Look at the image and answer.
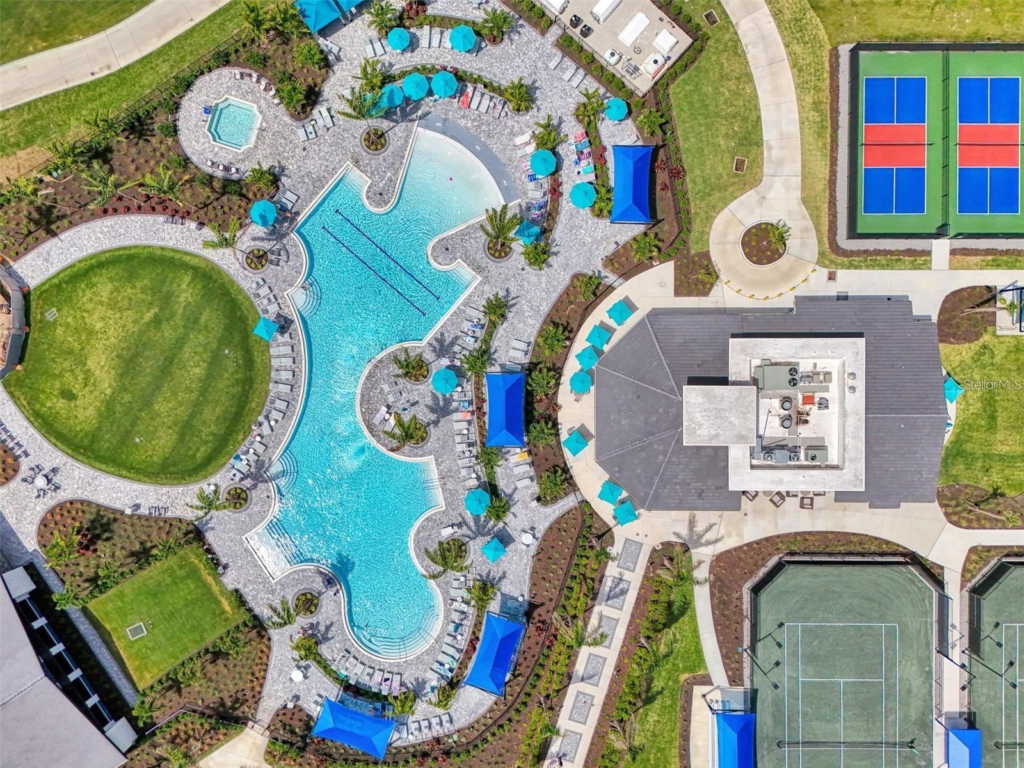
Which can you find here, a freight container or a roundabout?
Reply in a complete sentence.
The image shows a roundabout.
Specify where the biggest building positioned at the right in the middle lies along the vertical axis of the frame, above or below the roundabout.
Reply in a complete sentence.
In the image, the biggest building positioned at the right in the middle sits below the roundabout.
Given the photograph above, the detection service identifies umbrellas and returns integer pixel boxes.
[430,72,457,99]
[449,26,475,53]
[464,489,490,515]
[597,479,622,504]
[514,219,542,246]
[573,345,600,371]
[255,318,278,340]
[432,368,458,395]
[569,183,595,209]
[612,500,637,526]
[605,299,632,326]
[570,371,592,393]
[586,324,611,349]
[562,430,588,456]
[251,200,278,227]
[387,29,410,54]
[481,536,507,562]
[604,99,627,122]
[943,375,963,402]
[529,150,556,177]
[944,418,954,437]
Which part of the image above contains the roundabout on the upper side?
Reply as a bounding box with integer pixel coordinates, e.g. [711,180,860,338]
[739,219,789,269]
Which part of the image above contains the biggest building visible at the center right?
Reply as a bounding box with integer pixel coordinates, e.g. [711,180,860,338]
[594,301,948,510]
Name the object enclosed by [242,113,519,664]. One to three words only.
swimming pool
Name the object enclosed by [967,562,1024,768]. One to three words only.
tennis court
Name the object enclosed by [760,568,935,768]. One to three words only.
tennis court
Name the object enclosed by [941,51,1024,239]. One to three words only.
sports court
